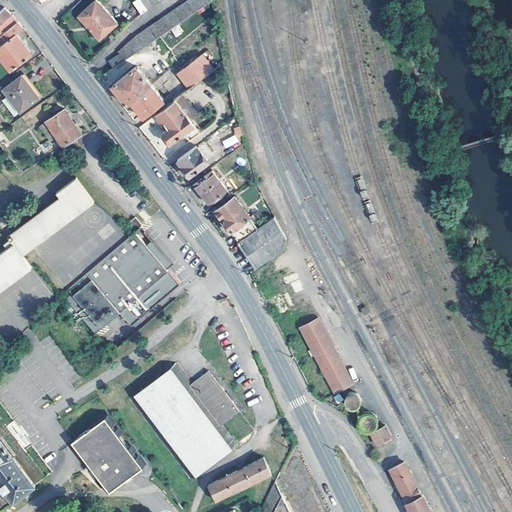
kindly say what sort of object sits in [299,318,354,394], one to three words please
building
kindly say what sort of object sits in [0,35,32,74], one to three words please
house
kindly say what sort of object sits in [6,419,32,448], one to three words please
shed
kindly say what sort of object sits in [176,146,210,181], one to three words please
house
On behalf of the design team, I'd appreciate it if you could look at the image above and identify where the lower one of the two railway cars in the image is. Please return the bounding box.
[364,199,380,224]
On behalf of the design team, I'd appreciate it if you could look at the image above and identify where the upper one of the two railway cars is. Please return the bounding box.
[353,174,368,201]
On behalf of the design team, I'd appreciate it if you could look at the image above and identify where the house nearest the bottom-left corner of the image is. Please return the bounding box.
[0,438,36,506]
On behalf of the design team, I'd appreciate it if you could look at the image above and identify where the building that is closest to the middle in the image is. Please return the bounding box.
[238,218,288,270]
